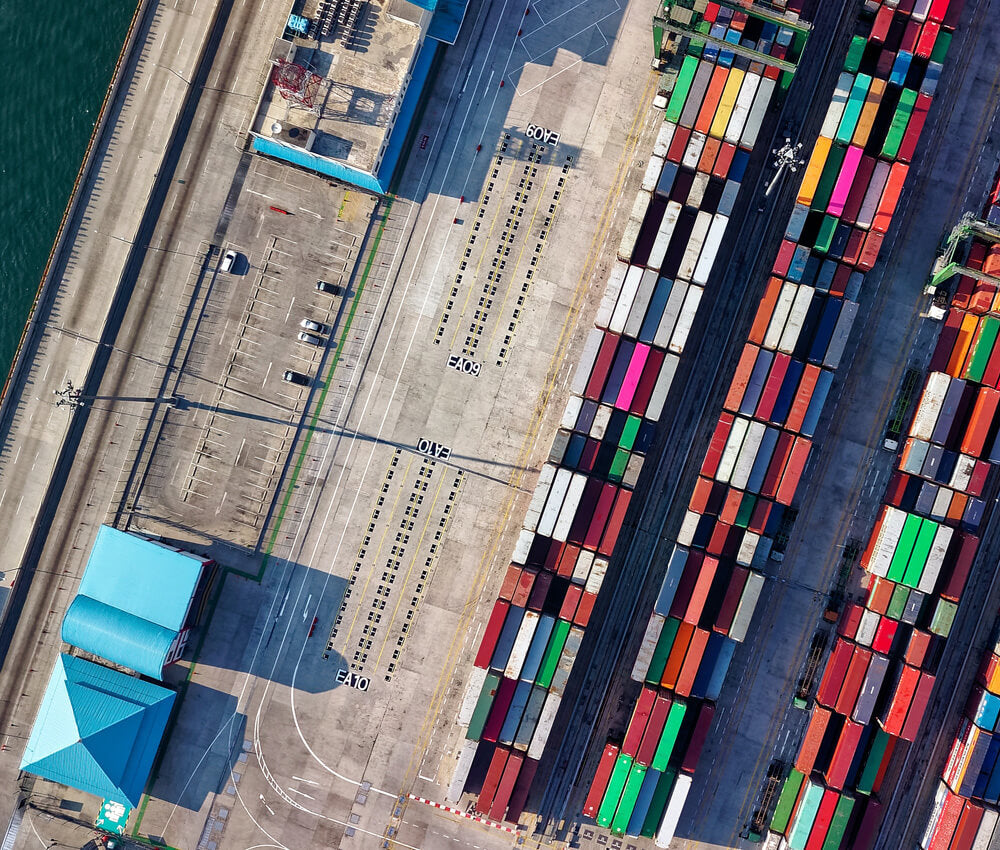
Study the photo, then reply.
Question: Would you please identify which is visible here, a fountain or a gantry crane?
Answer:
gantry crane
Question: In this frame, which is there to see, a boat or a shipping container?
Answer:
shipping container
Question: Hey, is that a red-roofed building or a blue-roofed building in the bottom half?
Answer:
blue-roofed building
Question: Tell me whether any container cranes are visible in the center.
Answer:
No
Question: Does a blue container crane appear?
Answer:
No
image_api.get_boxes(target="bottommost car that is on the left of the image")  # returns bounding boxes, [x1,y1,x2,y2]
[283,370,309,386]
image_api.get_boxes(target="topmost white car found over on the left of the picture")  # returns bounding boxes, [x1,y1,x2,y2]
[220,249,237,275]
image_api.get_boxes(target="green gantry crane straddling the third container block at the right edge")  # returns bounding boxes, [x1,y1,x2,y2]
[922,220,1000,290]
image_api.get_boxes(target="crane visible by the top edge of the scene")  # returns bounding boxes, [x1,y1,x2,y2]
[648,0,816,108]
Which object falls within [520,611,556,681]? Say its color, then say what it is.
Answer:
blue shipping container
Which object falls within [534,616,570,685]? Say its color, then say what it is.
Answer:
green shipping container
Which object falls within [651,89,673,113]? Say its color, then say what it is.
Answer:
white truck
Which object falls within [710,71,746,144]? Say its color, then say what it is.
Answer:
yellow shipping container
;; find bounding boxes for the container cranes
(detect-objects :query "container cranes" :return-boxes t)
[922,220,1000,290]
[648,0,816,108]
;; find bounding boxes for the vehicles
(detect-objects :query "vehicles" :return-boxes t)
[820,544,859,623]
[791,630,830,709]
[283,370,309,386]
[301,319,325,334]
[220,249,237,275]
[743,764,782,843]
[651,89,673,113]
[879,373,919,452]
[298,331,322,347]
[316,280,341,296]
